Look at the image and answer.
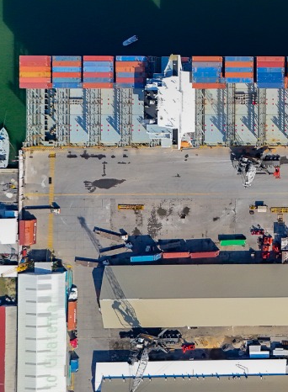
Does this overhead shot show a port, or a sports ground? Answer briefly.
port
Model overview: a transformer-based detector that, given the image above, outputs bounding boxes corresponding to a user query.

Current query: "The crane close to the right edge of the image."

[230,146,280,190]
